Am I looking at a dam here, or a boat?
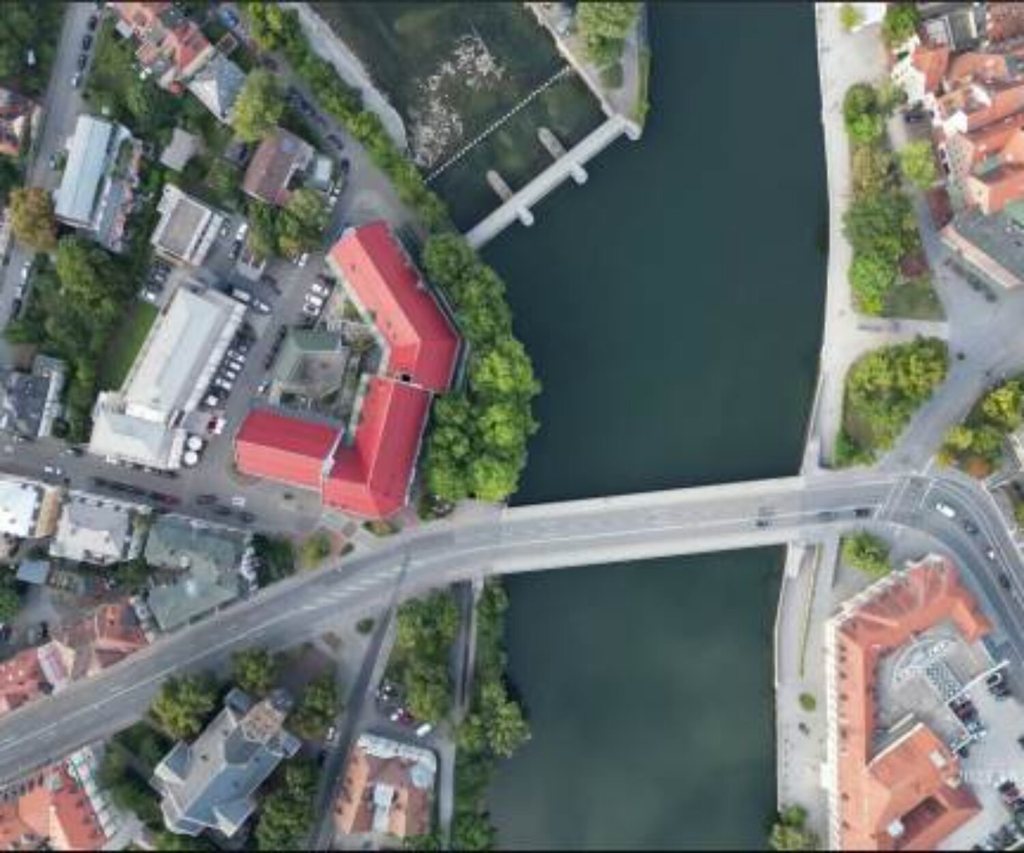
dam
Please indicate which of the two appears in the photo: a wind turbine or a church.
church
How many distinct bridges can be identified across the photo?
one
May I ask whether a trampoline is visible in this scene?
No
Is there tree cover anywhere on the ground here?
Yes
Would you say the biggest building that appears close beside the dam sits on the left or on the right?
left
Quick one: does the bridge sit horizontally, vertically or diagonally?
horizontally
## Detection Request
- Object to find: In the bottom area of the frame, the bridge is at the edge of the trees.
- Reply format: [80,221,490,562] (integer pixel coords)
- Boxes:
[501,473,807,575]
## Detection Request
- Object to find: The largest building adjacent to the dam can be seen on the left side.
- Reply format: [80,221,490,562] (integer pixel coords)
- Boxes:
[237,221,465,518]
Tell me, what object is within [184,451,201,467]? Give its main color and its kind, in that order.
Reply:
white umbrella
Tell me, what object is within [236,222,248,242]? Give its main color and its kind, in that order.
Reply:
white vehicle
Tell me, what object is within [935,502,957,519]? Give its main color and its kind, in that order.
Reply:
white vehicle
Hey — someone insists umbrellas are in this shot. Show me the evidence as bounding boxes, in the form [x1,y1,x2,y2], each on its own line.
[184,451,201,467]
[188,435,204,451]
